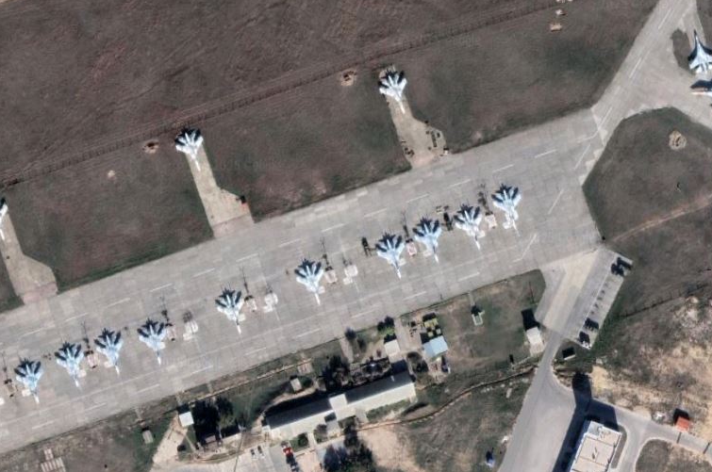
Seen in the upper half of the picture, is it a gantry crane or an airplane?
airplane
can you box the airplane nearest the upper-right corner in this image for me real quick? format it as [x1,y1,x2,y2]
[690,36,712,76]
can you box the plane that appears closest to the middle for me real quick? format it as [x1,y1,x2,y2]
[377,237,405,278]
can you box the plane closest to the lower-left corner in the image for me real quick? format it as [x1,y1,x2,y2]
[16,362,44,403]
